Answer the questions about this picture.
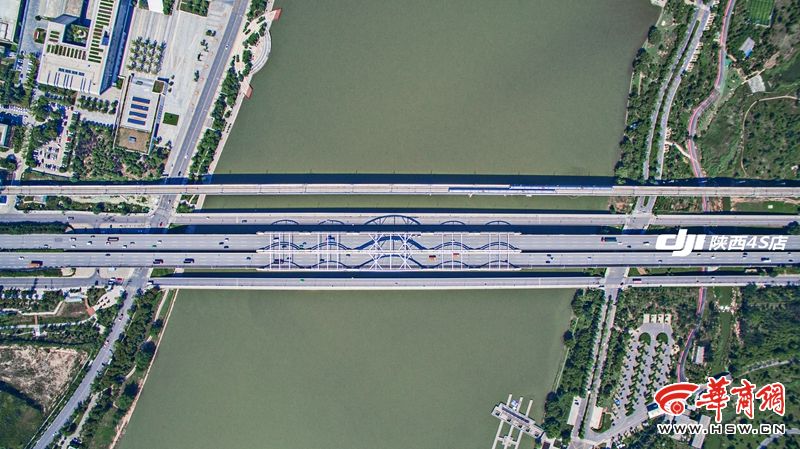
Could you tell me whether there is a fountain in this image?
No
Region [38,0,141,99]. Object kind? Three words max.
building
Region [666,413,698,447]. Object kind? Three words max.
building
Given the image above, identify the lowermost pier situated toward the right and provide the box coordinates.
[491,394,548,449]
